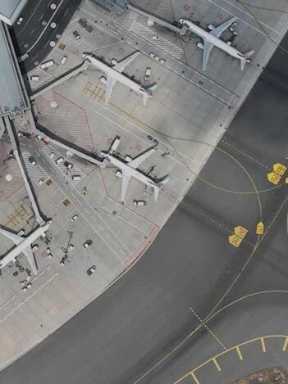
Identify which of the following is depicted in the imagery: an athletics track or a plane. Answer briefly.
plane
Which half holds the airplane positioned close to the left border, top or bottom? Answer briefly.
bottom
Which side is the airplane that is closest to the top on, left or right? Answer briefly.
right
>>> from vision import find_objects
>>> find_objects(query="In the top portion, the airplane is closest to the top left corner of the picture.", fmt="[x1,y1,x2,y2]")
[84,50,159,105]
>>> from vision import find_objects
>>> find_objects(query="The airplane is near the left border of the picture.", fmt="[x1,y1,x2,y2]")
[0,220,51,280]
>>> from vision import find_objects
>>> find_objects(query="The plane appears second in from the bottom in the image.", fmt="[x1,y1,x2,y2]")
[104,146,170,204]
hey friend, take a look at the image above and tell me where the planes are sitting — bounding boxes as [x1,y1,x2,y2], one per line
[0,220,51,280]
[181,14,258,70]
[84,50,159,105]
[104,146,170,204]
